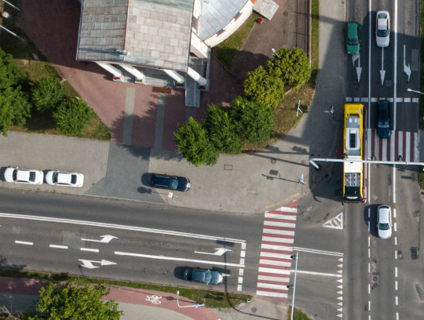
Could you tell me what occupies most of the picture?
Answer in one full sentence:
Most of the picture is covered by paved ground.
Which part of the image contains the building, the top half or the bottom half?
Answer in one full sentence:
You can find the building in the top half.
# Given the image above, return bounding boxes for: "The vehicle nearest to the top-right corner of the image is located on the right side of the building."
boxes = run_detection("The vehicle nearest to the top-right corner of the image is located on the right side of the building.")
[374,10,392,49]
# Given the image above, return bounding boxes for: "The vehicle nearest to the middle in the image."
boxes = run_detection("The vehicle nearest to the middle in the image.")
[152,175,191,192]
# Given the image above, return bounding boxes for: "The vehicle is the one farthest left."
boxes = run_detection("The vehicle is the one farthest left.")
[6,167,46,185]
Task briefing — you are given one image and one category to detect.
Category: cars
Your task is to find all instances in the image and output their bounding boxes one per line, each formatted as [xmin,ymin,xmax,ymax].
[185,267,224,285]
[374,10,392,49]
[6,167,46,185]
[375,102,393,138]
[47,170,87,189]
[344,22,361,55]
[375,206,392,239]
[152,175,191,192]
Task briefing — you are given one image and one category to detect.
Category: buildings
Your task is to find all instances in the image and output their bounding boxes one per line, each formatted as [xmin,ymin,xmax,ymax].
[77,0,255,106]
